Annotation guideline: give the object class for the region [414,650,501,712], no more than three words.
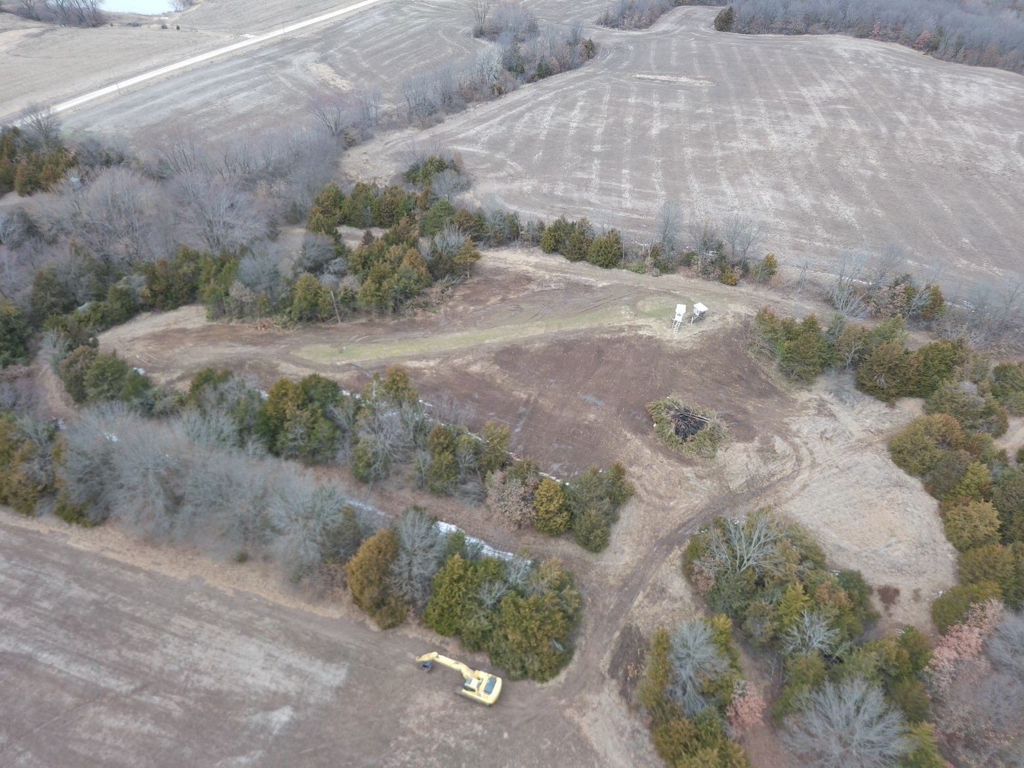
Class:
work vehicle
